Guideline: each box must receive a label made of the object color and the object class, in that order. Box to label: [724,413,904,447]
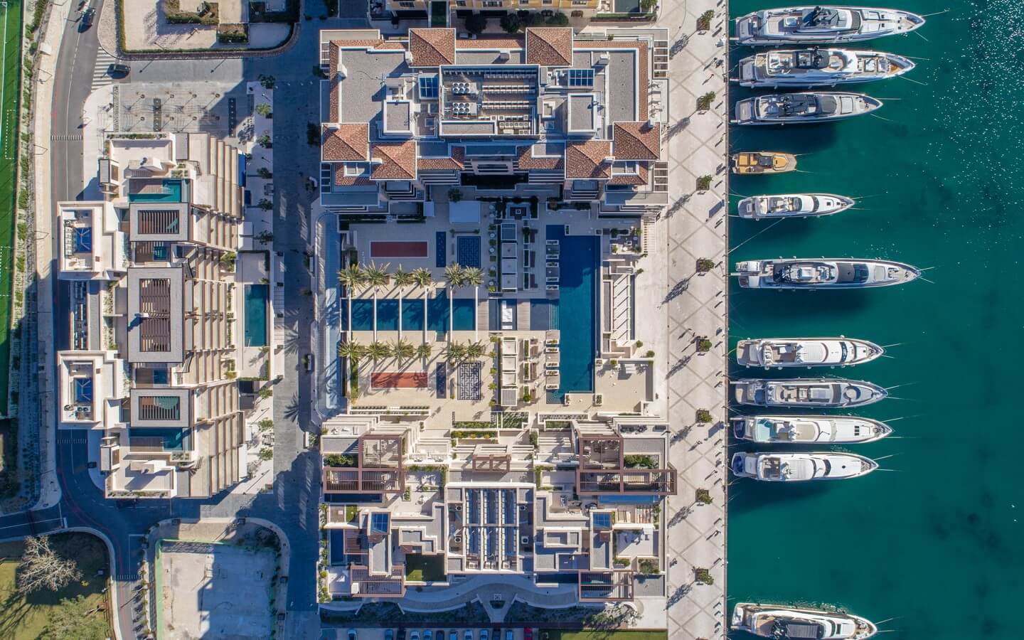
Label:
white boat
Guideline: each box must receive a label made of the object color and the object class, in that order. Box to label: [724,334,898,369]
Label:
white boat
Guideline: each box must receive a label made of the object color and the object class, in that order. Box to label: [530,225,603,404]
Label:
blue swimming pool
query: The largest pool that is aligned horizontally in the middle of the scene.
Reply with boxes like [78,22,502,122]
[343,287,475,341]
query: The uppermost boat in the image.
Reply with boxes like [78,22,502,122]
[723,6,942,52]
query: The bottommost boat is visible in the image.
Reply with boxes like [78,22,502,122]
[725,598,893,640]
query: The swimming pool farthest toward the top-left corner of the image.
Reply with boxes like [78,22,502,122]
[128,179,184,203]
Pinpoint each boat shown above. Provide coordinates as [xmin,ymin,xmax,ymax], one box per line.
[724,376,899,410]
[724,451,896,487]
[725,191,871,252]
[725,49,927,93]
[724,413,904,447]
[723,6,942,52]
[724,255,932,297]
[725,598,893,640]
[724,334,898,369]
[724,149,814,174]
[725,93,898,129]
